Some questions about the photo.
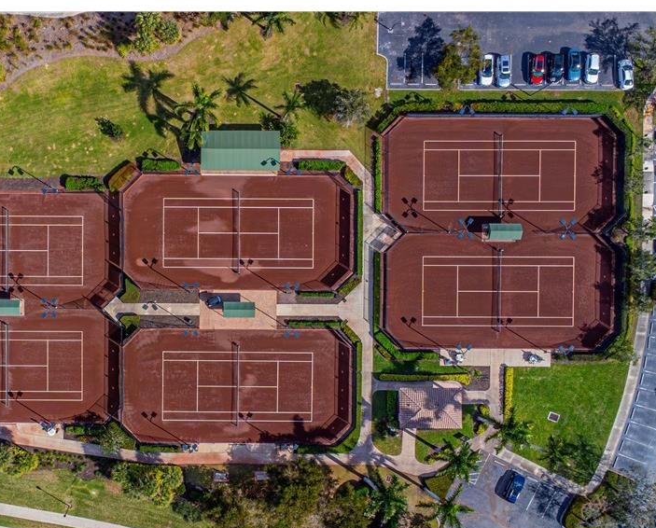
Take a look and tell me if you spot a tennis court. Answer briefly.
Yes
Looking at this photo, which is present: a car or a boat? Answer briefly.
car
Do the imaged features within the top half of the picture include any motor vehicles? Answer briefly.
Yes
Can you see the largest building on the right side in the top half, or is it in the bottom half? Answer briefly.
bottom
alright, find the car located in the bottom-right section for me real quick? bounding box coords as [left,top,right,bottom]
[504,472,527,503]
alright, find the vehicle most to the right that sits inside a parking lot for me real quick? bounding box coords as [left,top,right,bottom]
[620,58,638,88]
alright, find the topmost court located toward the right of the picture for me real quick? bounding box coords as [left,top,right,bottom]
[385,115,616,233]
